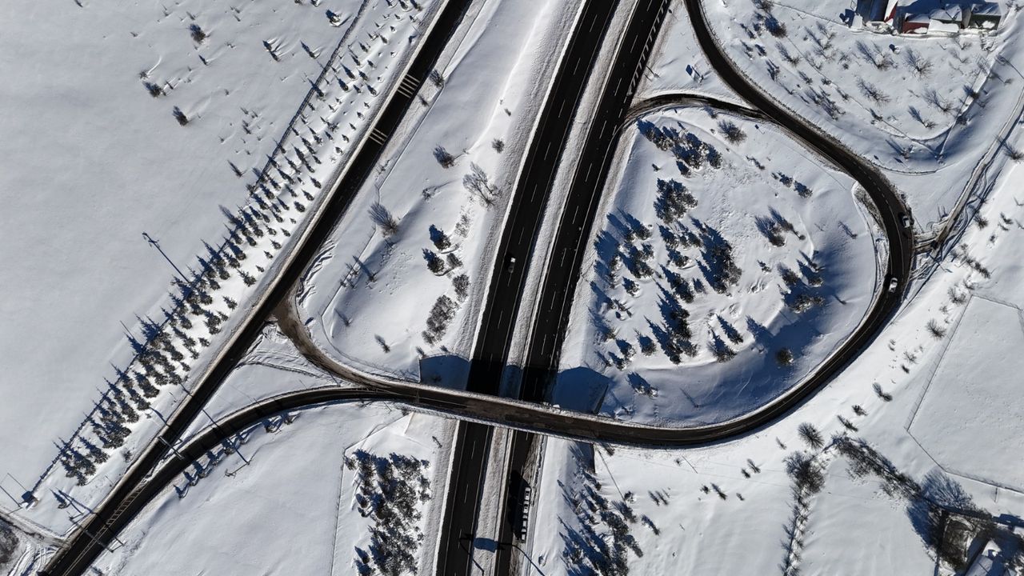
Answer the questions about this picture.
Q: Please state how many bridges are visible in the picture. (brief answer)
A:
1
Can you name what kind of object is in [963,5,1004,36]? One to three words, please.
barn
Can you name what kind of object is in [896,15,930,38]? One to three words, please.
shed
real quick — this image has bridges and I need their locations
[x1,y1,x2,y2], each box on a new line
[395,357,609,475]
